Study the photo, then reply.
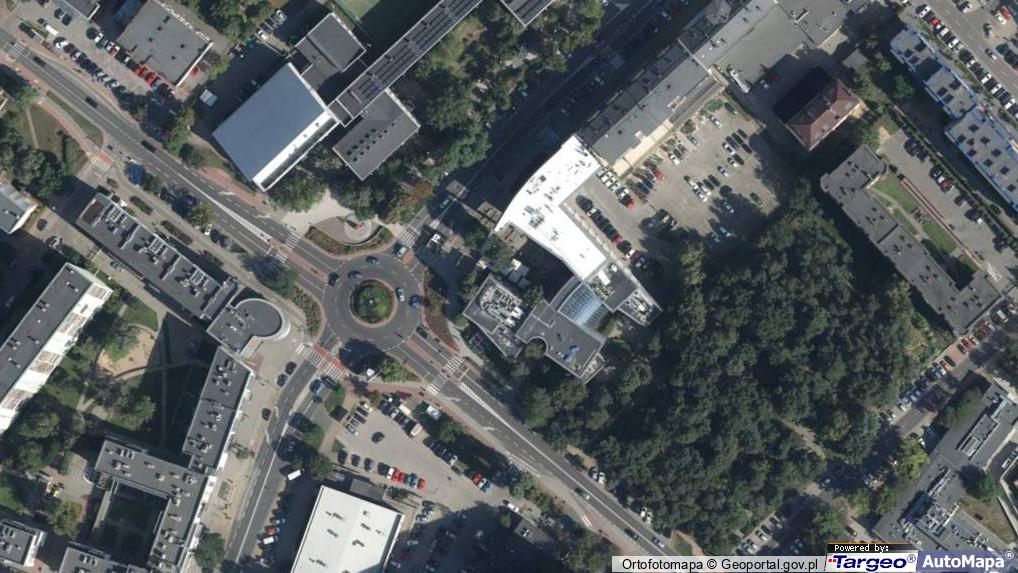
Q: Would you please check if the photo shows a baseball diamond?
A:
No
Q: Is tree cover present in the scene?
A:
Yes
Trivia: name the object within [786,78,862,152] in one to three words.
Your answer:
house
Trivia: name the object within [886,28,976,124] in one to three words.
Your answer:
building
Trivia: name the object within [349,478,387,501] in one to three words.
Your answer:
shed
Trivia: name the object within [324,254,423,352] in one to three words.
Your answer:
roundabout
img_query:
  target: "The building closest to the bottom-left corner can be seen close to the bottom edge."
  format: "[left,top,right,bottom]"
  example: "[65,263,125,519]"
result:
[0,518,43,564]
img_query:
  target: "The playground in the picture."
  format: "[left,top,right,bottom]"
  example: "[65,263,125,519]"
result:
[102,328,155,375]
